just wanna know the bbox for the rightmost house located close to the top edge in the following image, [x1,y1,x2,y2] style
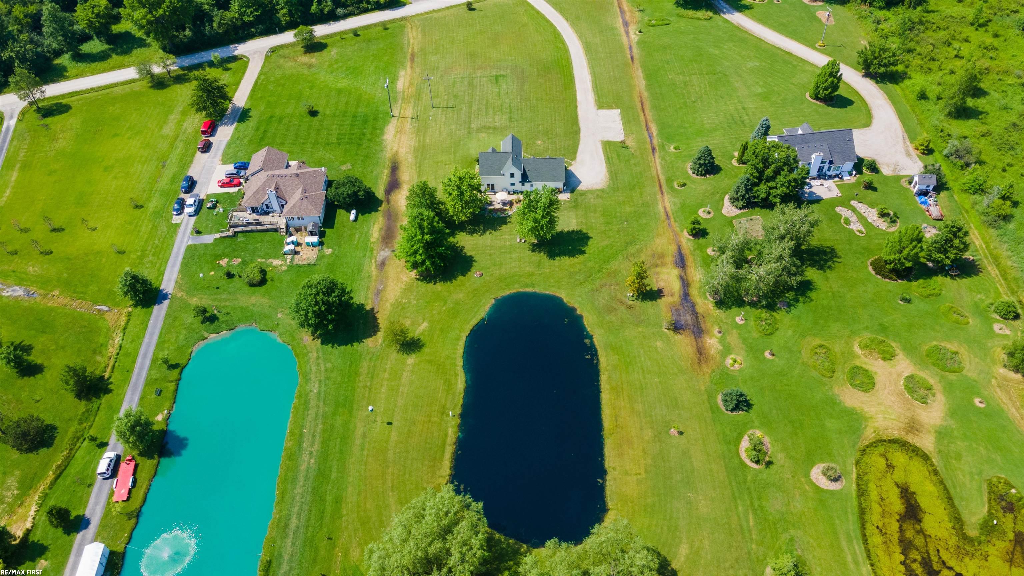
[709,0,923,175]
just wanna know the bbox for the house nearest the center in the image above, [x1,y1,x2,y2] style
[479,133,566,194]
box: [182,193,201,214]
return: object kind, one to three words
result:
vehicle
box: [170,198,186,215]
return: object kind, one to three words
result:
car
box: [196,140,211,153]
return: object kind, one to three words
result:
vehicle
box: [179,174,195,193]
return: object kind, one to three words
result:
car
